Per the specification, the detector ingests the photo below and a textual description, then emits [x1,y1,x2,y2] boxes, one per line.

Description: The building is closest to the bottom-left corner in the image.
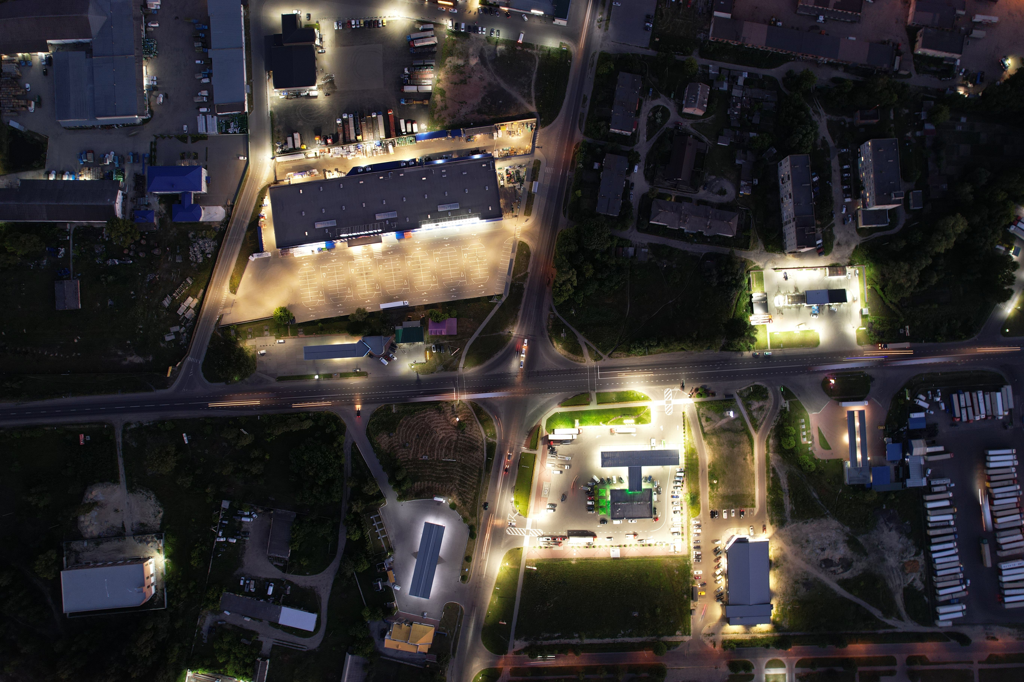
[61,557,161,613]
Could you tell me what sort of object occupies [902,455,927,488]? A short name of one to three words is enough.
shed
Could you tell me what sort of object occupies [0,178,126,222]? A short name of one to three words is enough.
building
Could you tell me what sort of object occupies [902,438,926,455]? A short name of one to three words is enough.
barn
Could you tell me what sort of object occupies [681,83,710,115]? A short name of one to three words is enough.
house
